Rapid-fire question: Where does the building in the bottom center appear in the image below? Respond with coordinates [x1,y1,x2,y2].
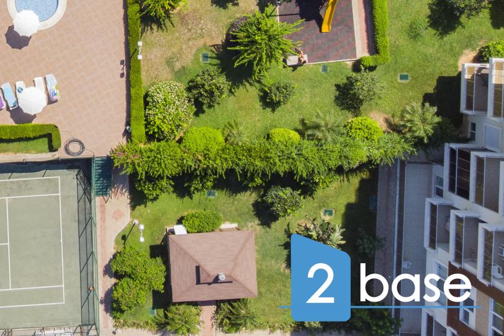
[163,222,259,303]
